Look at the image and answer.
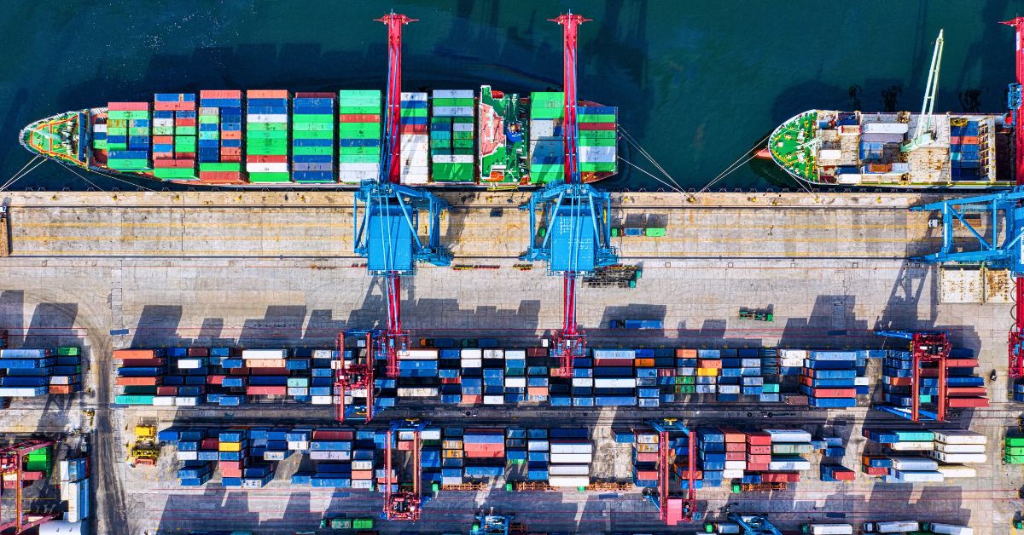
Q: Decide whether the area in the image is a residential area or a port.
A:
port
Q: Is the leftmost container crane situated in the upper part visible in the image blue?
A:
Yes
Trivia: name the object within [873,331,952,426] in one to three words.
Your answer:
container crane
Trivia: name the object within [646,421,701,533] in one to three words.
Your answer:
container crane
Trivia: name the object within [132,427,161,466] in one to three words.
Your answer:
work vehicle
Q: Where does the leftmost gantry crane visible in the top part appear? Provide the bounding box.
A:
[347,2,459,377]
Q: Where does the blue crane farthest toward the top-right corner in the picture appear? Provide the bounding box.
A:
[899,13,1024,377]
